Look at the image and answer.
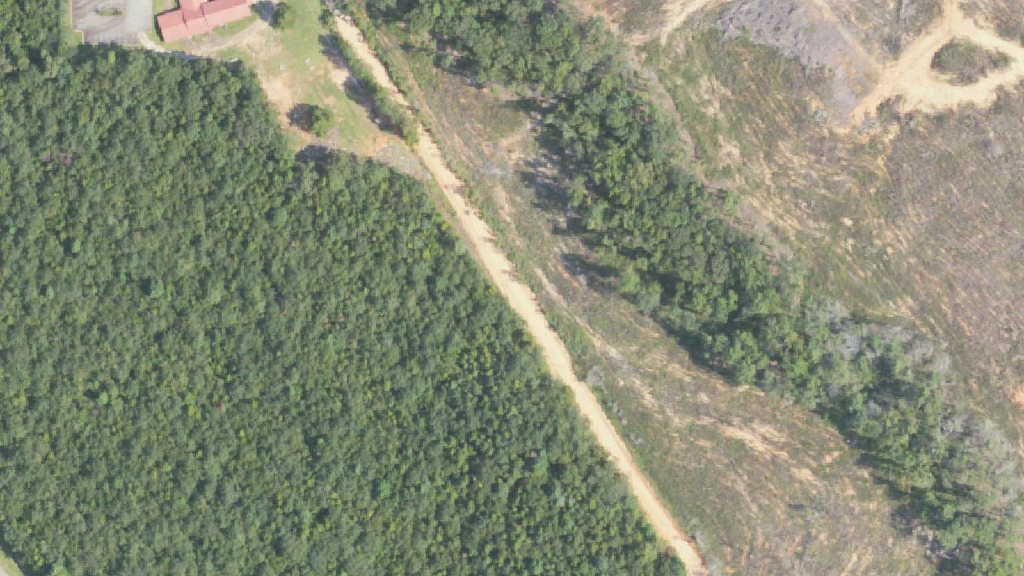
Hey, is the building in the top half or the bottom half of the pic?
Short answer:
top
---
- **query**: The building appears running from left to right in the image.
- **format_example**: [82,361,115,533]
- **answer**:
[158,0,254,43]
